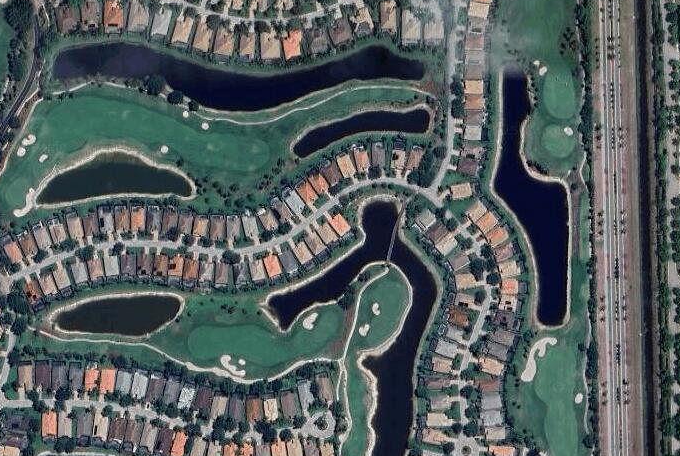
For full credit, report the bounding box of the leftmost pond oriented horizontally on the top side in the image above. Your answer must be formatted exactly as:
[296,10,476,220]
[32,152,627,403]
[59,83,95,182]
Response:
[37,150,191,204]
